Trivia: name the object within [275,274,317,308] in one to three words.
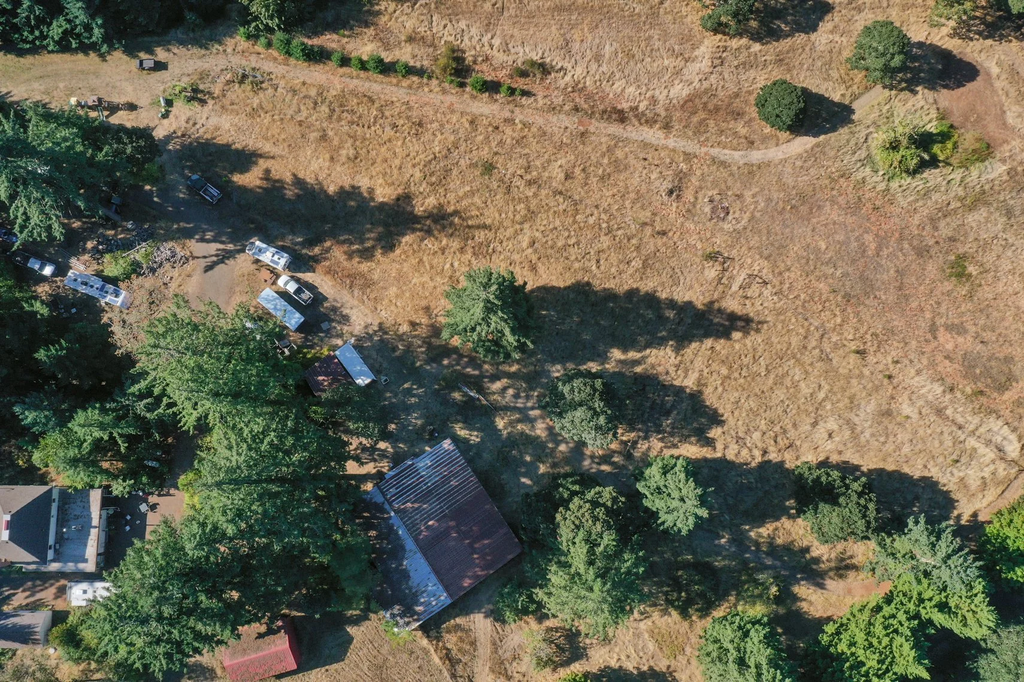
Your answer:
truck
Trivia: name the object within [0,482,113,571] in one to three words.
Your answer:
house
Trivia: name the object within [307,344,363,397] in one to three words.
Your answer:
building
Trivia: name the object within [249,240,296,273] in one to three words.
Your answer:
camper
